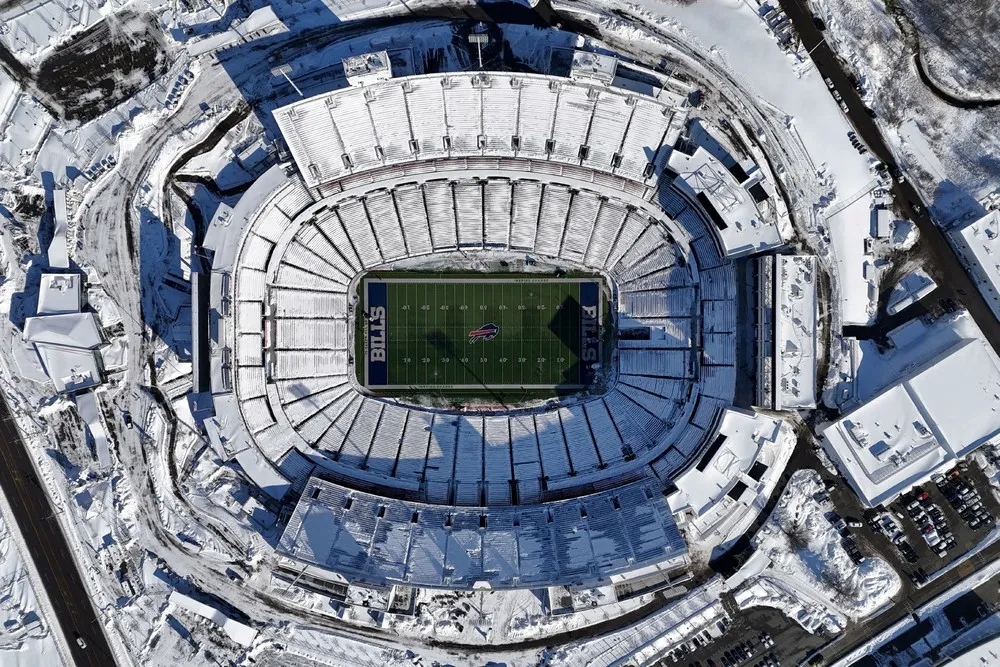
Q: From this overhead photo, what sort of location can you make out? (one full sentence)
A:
The picture captures a sports ground.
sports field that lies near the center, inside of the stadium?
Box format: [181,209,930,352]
[364,278,604,389]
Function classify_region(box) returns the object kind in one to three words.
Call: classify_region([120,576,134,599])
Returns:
vehicle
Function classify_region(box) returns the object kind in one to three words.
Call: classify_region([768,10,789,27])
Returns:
vehicle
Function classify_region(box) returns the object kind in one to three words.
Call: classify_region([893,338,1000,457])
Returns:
building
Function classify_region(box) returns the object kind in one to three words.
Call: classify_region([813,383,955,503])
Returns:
building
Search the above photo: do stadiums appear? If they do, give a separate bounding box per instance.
[203,72,740,590]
